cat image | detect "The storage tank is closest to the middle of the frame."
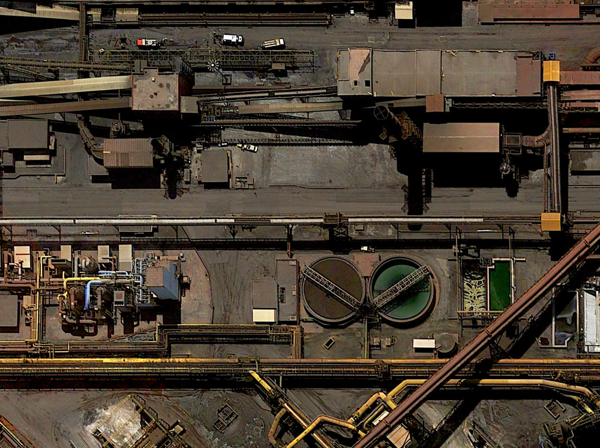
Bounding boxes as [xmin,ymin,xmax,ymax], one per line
[301,256,367,322]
